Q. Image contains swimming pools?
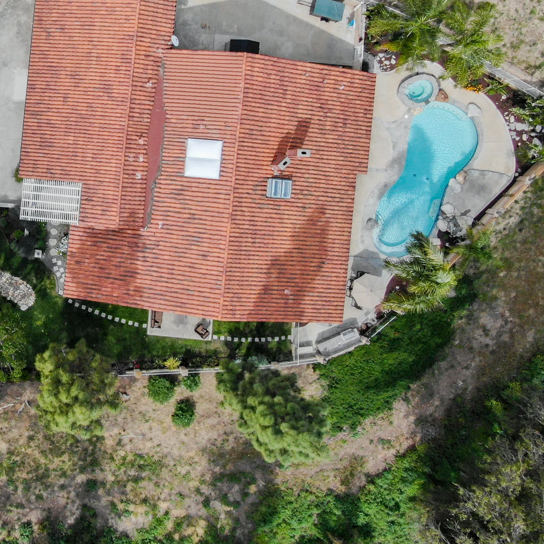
Yes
